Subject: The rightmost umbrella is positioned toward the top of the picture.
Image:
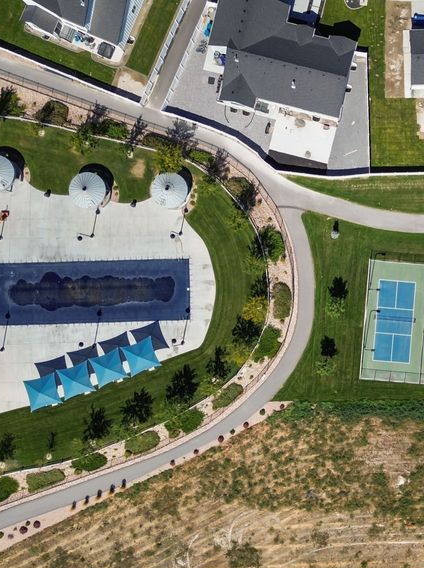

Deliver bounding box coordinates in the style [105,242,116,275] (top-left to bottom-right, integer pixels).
[150,171,188,209]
